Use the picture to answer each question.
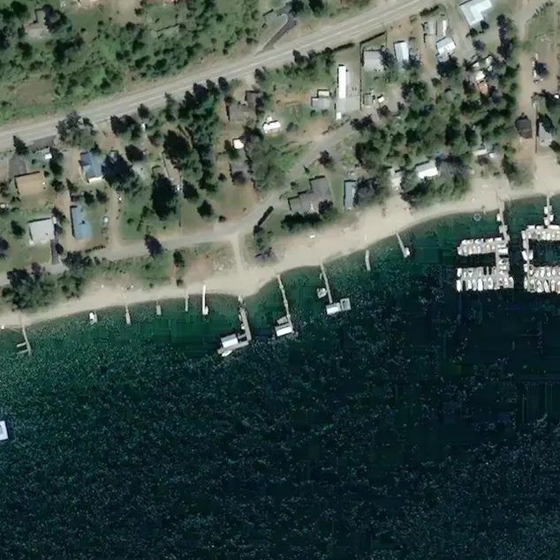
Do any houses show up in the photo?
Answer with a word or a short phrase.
Yes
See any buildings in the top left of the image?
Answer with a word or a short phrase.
Yes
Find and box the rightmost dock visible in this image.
[524,194,560,294]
